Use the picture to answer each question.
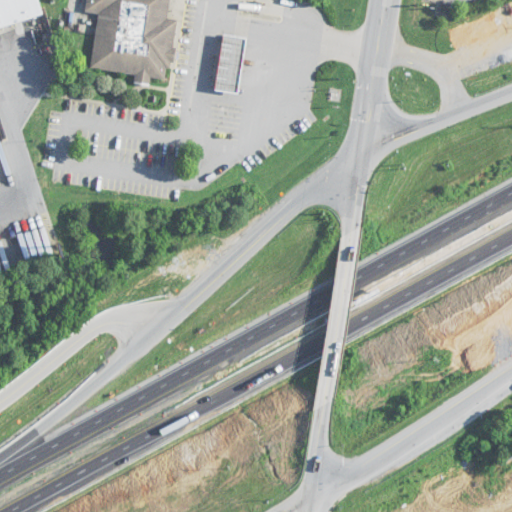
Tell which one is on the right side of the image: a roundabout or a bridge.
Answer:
bridge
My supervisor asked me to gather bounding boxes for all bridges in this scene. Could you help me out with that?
[314,230,361,409]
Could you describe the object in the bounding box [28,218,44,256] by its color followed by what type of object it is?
white vehicle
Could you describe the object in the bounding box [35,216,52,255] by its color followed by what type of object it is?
white vehicle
